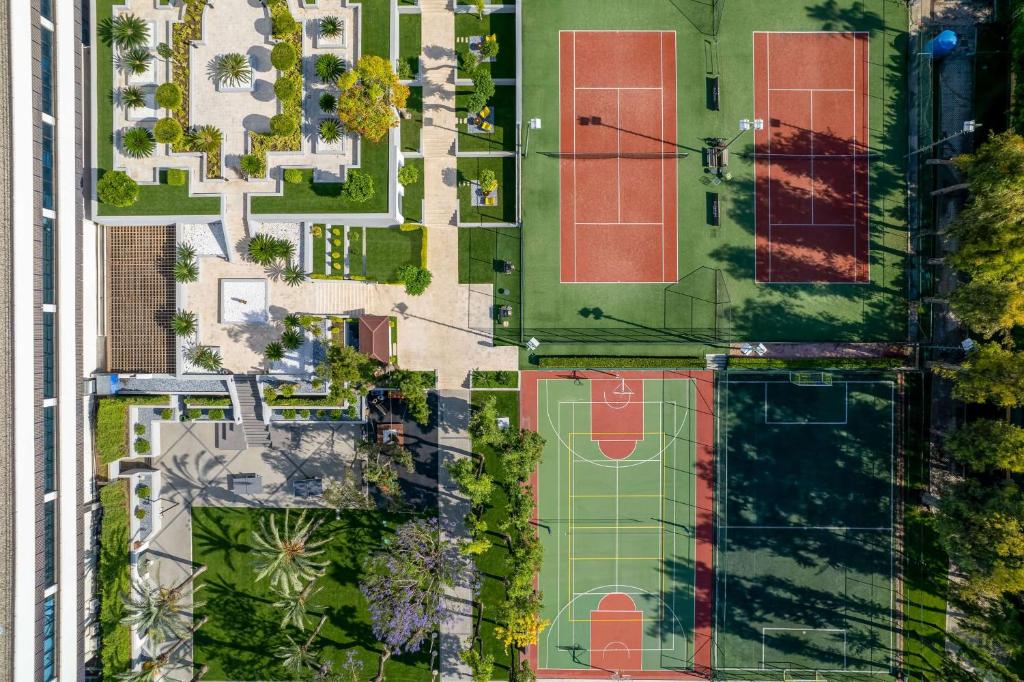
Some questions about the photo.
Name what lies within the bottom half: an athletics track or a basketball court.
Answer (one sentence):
The feature located within the bottom half is a basketball court.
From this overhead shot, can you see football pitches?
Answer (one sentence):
Yes, the frame does contain a football pitch.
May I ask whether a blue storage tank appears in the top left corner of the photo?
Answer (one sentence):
No, there's no blue storage tank to be seen in the top left corner of the photo.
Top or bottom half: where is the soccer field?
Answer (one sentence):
The bottom half of the photo is where the soccer field is.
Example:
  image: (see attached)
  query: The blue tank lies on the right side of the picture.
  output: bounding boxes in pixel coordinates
[920,25,956,54]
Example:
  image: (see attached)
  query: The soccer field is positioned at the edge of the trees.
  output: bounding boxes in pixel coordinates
[717,381,893,671]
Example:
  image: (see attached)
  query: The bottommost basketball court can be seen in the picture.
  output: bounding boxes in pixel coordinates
[537,379,696,670]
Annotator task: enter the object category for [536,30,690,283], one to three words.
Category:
tennis court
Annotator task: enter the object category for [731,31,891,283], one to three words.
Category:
tennis court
